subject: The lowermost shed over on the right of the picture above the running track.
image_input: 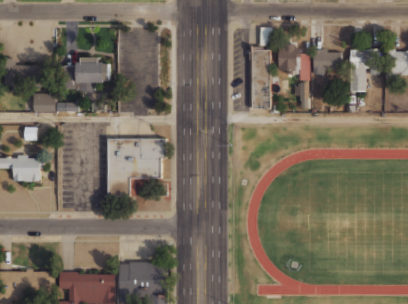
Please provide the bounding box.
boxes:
[296,80,312,108]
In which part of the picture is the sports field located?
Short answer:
bottom right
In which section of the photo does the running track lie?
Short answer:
bottom right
